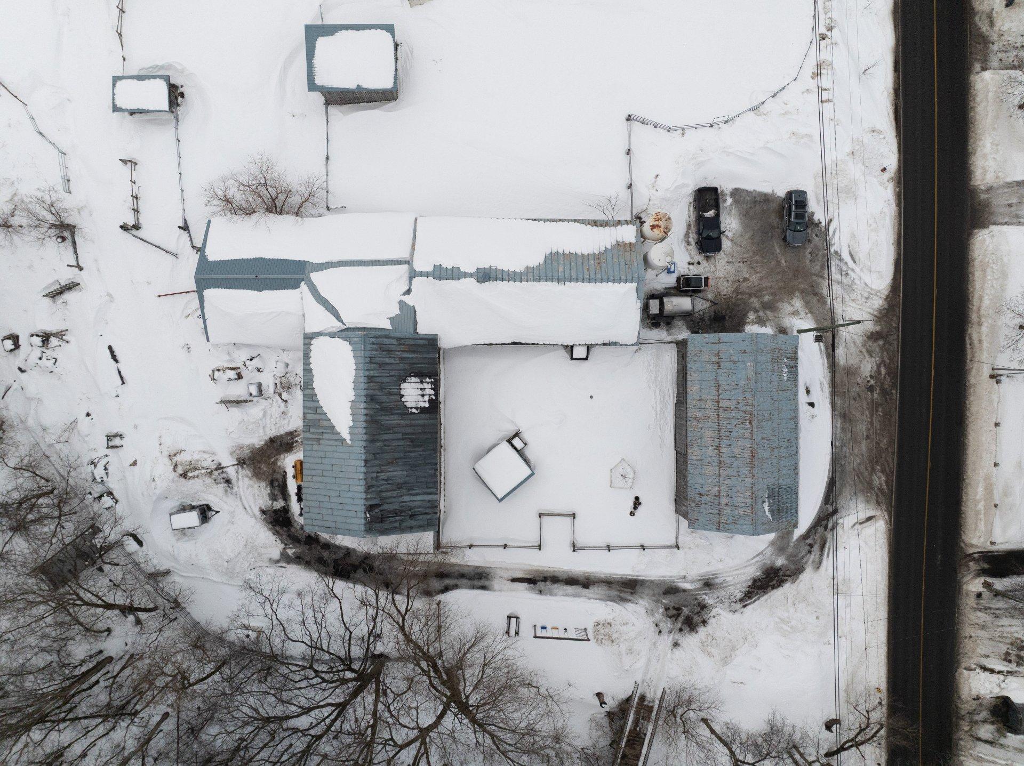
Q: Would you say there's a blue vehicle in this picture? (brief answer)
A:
No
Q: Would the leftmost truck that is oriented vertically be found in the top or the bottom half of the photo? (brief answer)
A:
top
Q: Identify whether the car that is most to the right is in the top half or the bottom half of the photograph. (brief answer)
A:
top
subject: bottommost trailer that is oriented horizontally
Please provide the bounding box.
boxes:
[159,502,221,537]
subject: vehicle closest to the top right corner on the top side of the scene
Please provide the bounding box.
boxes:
[786,186,815,245]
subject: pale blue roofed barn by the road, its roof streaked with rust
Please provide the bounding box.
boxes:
[676,333,799,535]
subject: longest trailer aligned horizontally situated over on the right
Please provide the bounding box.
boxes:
[648,291,720,322]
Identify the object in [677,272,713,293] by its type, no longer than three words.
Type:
work vehicle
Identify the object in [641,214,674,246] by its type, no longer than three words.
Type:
storage tank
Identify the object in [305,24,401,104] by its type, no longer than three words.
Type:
shed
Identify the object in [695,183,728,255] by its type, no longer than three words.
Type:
truck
